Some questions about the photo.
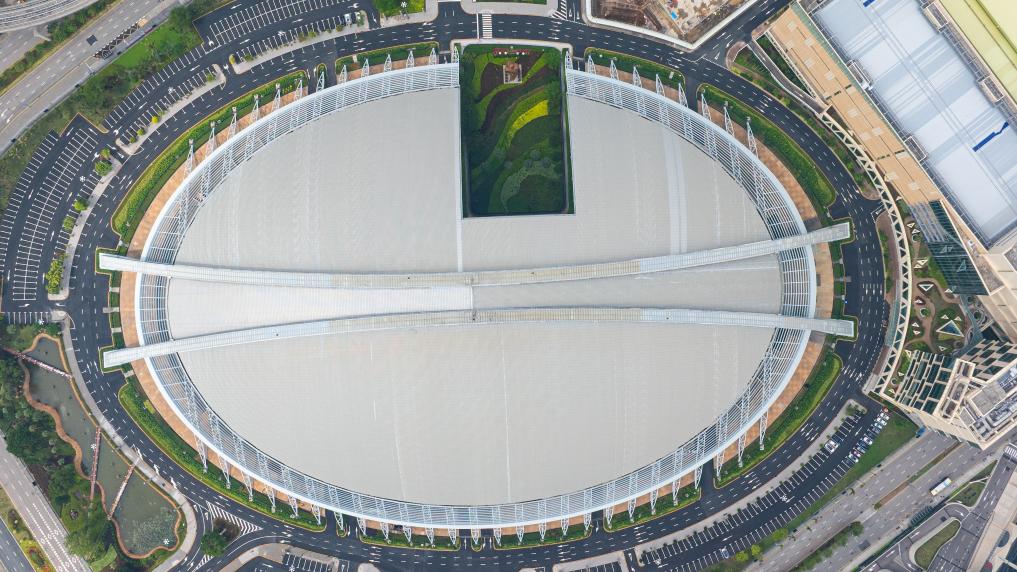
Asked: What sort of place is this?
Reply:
sports ground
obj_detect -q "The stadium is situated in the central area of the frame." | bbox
[99,44,854,546]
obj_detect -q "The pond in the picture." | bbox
[24,338,179,555]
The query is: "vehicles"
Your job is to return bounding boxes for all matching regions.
[856,445,868,454]
[833,434,843,445]
[932,477,956,496]
[871,426,882,435]
[859,441,871,451]
[352,12,358,23]
[829,439,839,450]
[844,458,855,468]
[864,436,875,446]
[721,547,729,559]
[849,454,860,463]
[881,412,892,421]
[825,442,835,453]
[874,421,885,431]
[345,13,352,25]
[852,449,864,459]
[877,417,889,427]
